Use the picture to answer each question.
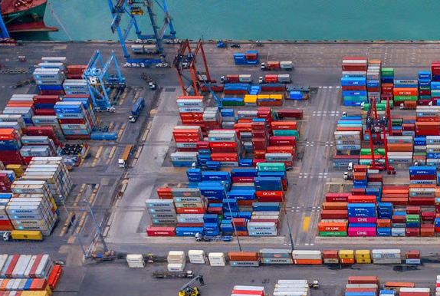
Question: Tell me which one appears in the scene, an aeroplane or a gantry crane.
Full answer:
Looking from above, you can make out a gantry crane.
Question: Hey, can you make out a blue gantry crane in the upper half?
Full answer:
Yes, in the upper half there is a blue gantry crane.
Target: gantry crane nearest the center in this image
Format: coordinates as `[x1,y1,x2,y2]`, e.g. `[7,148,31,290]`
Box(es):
[170,36,213,96]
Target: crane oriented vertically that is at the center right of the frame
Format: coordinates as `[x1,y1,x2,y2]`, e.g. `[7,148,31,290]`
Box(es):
[366,91,398,168]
